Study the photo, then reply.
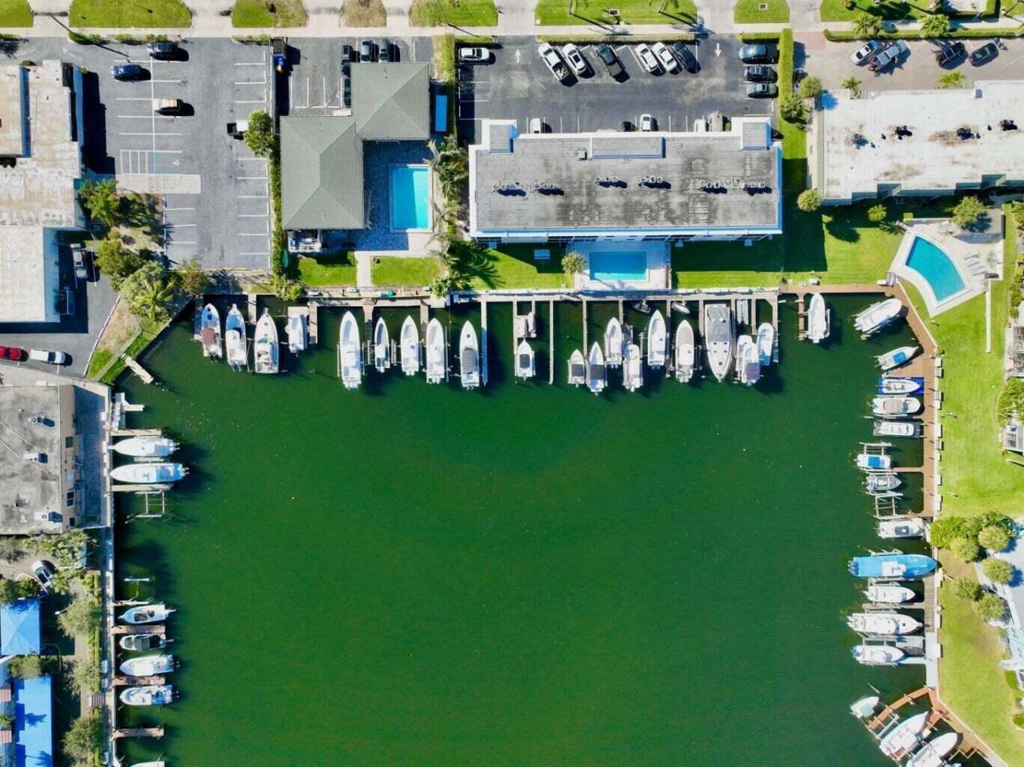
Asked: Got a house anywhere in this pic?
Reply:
Yes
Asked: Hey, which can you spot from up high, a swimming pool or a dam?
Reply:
swimming pool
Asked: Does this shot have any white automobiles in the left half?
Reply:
Yes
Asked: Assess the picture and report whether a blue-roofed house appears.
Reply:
Yes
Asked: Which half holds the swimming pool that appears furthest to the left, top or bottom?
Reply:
top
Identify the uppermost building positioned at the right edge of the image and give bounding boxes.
[809,79,1024,207]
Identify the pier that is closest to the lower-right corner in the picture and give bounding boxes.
[941,712,1007,767]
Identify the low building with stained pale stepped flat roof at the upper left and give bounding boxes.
[0,60,91,231]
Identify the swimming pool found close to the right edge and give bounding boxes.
[891,209,1003,318]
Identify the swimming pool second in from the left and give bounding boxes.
[574,242,670,290]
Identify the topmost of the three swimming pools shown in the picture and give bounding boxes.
[389,165,433,232]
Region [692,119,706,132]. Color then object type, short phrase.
white vehicle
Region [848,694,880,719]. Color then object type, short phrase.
white boat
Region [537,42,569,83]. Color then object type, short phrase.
white truck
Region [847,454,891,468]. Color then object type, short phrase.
white boat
